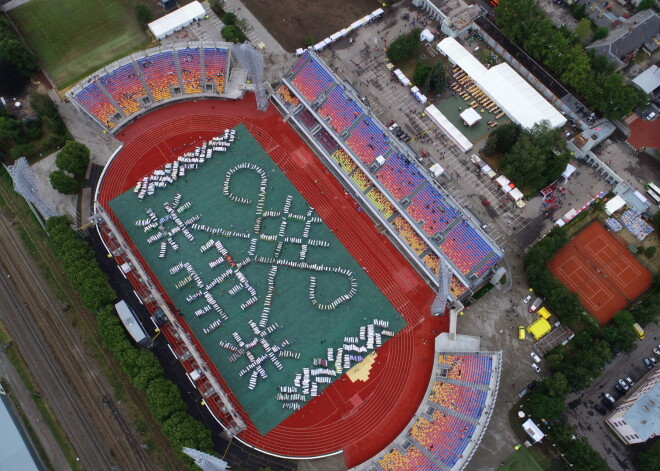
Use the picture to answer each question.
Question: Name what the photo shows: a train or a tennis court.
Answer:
tennis court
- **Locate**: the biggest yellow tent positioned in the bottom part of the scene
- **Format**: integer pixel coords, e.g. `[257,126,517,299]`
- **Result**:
[526,318,551,341]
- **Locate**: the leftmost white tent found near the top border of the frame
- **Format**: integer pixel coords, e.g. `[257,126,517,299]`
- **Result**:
[148,1,207,43]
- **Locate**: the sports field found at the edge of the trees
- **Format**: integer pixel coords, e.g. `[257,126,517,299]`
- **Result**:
[109,124,405,434]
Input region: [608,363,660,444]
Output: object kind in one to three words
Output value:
building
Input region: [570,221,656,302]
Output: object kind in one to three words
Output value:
tennis court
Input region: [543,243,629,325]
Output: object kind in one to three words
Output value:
tennis court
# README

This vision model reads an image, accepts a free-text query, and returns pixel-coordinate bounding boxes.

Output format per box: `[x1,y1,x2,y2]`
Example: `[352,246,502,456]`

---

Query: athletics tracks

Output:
[98,99,449,465]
